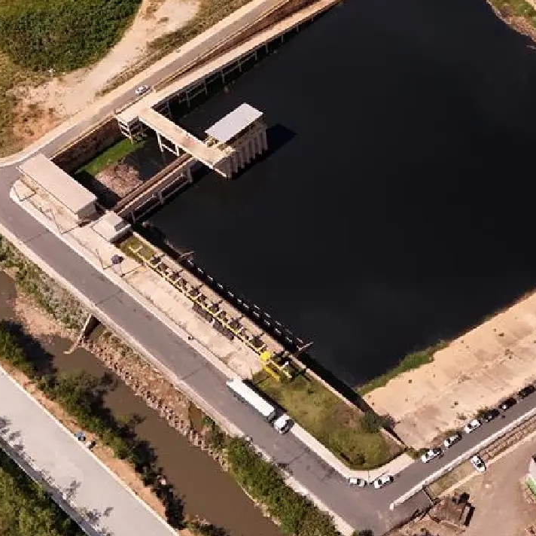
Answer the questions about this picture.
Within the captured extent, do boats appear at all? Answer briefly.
No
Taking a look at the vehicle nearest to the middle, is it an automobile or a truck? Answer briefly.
truck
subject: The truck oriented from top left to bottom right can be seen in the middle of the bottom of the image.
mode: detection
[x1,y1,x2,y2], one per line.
[230,378,286,431]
